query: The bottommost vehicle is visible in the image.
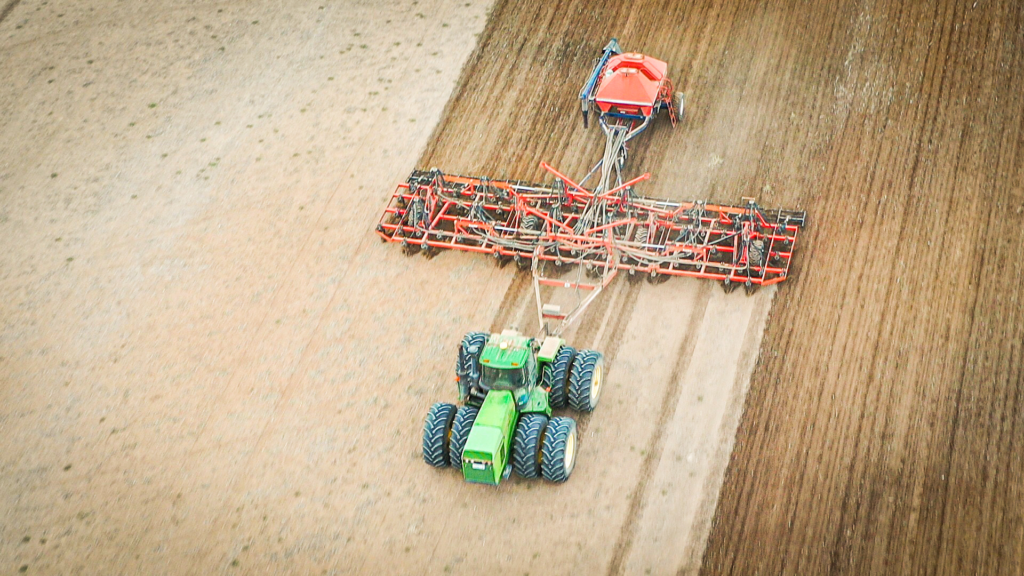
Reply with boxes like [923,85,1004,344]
[421,325,604,488]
